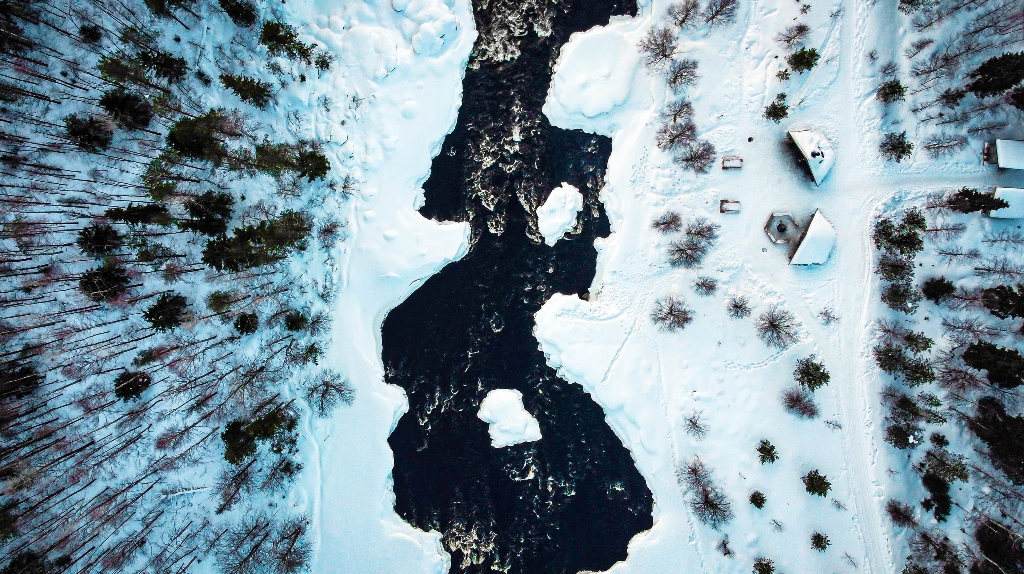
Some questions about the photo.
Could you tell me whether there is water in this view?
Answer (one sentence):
Yes, there's water in this view.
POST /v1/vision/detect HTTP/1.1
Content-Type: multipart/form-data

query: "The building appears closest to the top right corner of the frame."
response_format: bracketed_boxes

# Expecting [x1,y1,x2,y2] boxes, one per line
[981,139,1024,171]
